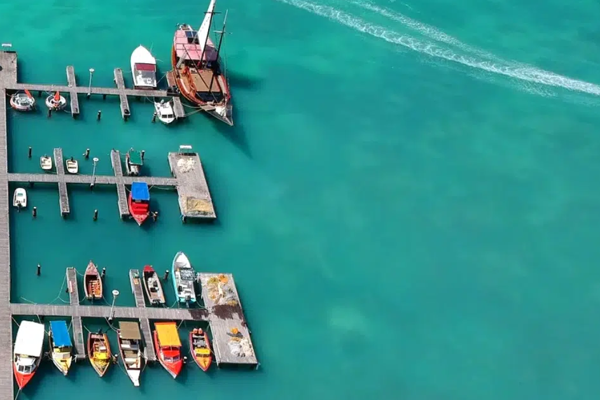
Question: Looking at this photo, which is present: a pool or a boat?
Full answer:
The image shows a boat.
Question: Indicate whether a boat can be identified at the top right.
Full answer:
No, at the top right there is no boat.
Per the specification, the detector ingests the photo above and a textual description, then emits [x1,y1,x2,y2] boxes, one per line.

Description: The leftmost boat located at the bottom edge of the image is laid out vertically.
[11,317,48,391]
